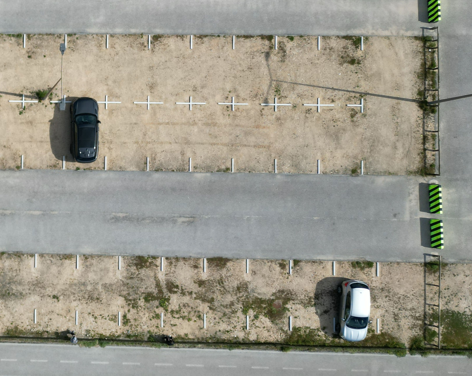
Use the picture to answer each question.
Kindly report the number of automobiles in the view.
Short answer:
2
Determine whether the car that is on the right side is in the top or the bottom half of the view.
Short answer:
bottom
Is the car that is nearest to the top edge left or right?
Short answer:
left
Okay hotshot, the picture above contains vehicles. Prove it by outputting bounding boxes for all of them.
[336,278,374,341]
[69,98,102,164]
